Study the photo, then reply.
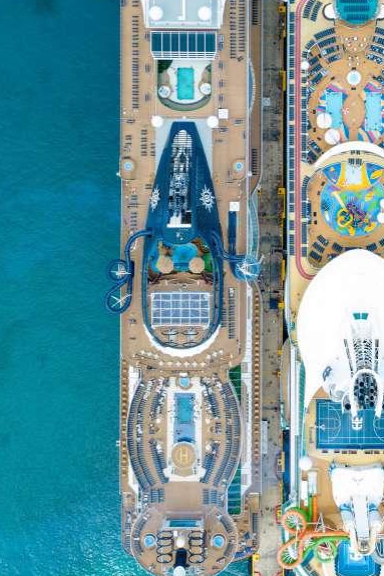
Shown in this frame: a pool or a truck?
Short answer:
pool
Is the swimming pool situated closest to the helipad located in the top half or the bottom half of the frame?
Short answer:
bottom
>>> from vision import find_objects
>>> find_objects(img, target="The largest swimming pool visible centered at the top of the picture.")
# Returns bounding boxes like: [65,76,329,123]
[176,66,194,100]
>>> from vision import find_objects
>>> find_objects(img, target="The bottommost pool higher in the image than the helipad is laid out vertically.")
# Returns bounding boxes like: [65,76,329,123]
[173,391,194,444]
